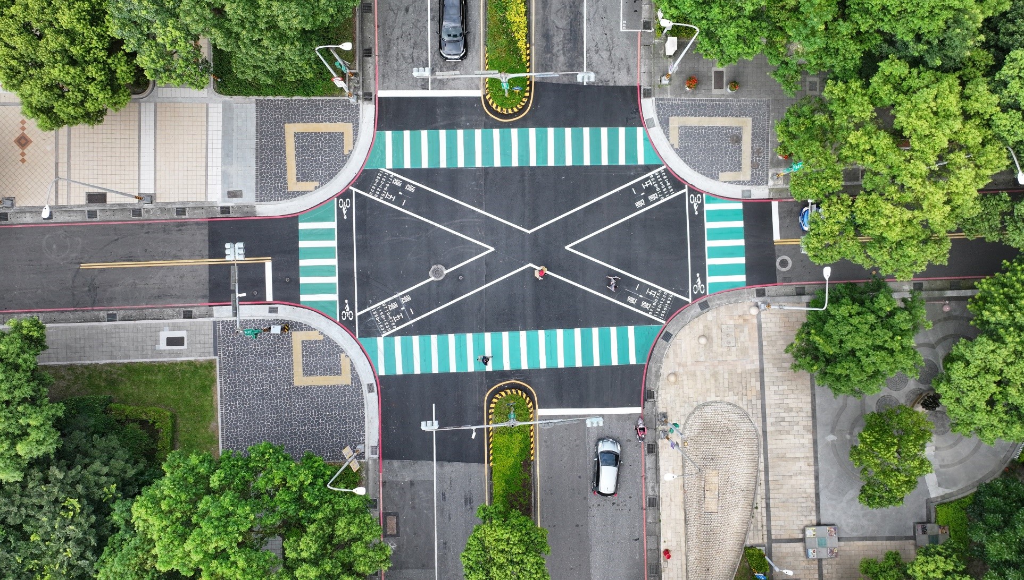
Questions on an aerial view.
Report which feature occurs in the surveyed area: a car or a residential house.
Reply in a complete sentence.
I can see a car in this picture.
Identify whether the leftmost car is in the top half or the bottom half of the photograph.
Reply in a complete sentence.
You can find the leftmost car in the top half.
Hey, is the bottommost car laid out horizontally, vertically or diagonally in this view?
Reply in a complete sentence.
The bottommost car is laid out vertically.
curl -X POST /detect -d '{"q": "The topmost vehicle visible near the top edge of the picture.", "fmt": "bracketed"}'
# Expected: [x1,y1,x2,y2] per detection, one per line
[437,0,470,59]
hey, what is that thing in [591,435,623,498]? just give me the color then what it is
white car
